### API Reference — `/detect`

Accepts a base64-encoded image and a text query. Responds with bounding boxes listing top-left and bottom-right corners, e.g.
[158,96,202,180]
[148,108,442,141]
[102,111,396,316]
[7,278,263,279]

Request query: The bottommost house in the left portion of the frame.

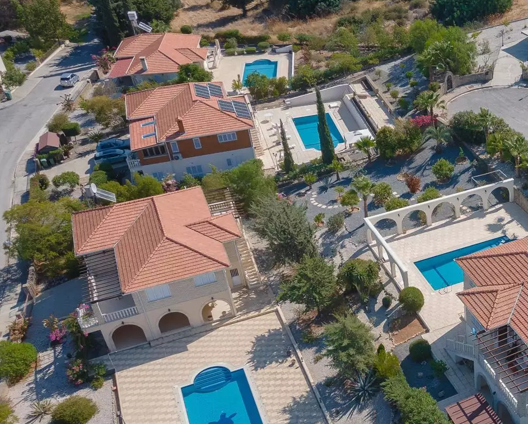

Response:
[71,184,274,356]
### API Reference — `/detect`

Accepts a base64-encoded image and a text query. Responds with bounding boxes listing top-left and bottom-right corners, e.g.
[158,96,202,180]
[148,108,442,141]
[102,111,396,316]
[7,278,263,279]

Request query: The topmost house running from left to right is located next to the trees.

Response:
[108,32,229,96]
